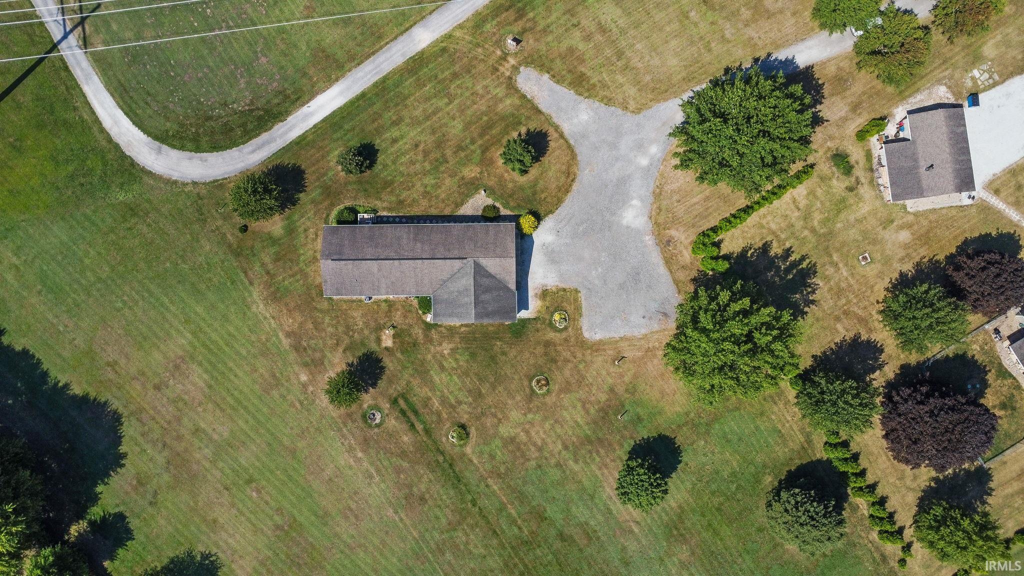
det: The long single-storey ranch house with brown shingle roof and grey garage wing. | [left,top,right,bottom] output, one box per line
[321,223,517,323]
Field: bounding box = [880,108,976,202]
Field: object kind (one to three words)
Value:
building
